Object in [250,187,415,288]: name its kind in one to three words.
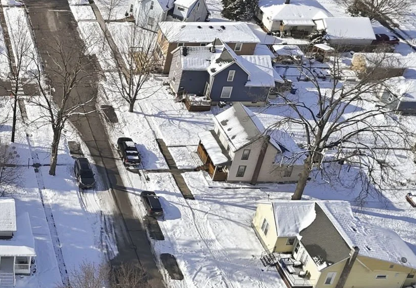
house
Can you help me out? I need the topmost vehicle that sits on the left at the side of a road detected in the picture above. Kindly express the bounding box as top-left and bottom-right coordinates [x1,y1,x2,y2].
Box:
[117,139,147,170]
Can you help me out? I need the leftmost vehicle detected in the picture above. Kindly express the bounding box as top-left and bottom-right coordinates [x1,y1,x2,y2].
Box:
[72,157,101,191]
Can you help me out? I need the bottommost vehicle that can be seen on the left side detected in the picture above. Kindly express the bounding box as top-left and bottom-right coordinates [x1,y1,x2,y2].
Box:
[139,191,168,220]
